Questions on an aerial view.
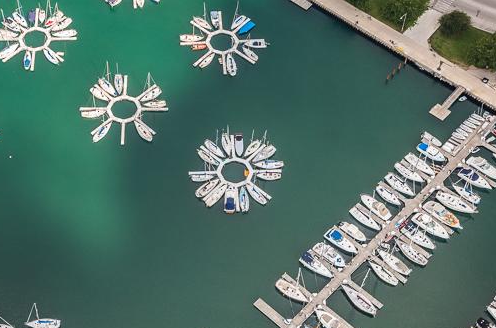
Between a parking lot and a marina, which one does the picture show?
marina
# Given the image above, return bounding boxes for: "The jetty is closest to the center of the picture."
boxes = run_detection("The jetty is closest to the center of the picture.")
[189,135,282,212]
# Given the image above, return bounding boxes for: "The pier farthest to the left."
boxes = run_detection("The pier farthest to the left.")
[0,8,78,72]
